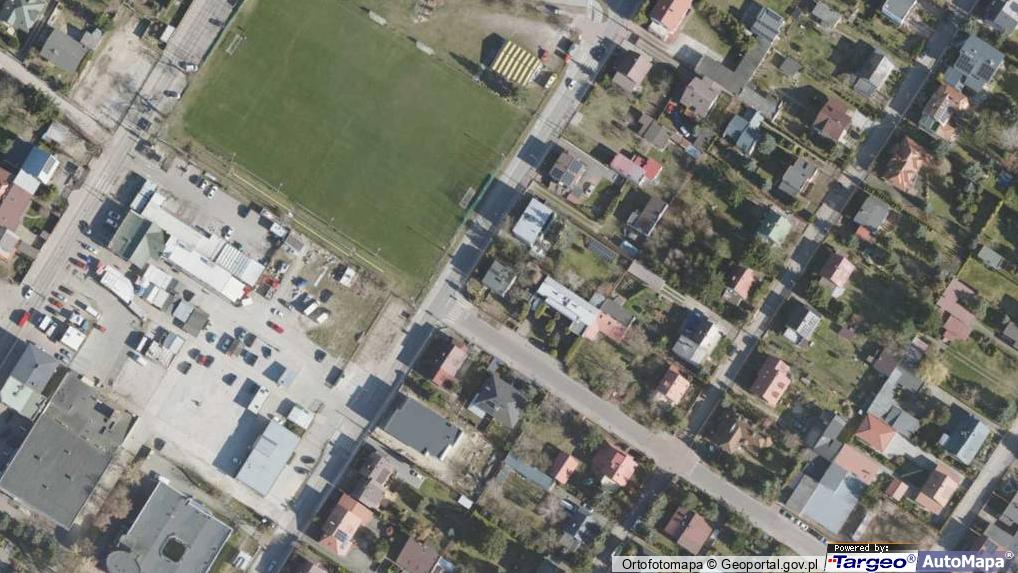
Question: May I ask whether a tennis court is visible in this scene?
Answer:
No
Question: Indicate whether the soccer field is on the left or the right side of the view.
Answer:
left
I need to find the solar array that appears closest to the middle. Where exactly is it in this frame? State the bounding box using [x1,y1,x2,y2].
[586,238,616,262]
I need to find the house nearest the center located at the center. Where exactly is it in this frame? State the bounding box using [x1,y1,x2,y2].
[480,260,525,297]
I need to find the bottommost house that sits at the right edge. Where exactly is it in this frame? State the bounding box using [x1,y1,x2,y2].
[966,526,1005,565]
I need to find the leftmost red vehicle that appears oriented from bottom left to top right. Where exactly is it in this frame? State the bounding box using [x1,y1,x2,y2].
[18,311,31,326]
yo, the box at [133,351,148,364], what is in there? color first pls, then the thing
white vehicle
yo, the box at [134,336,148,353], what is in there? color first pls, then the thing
white vehicle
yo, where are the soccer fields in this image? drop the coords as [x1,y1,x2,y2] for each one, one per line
[182,0,528,293]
